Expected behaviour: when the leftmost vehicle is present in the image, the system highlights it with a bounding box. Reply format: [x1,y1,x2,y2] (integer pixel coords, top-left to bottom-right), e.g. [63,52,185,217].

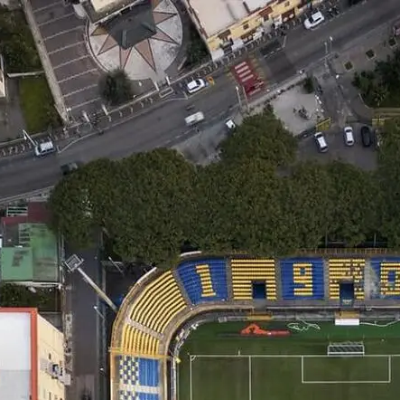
[32,138,54,154]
